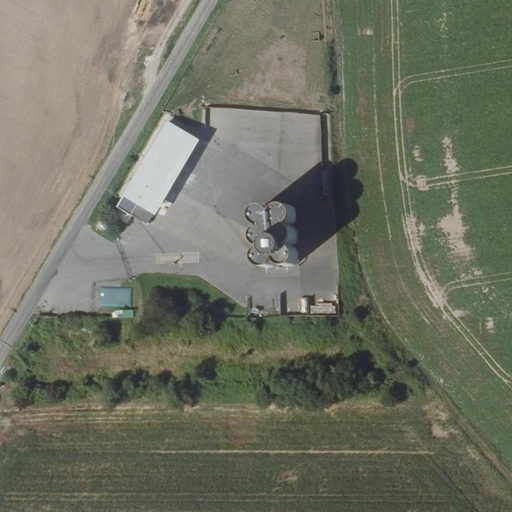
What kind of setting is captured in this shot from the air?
farmland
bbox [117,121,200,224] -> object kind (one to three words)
building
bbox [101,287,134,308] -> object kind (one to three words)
water tank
